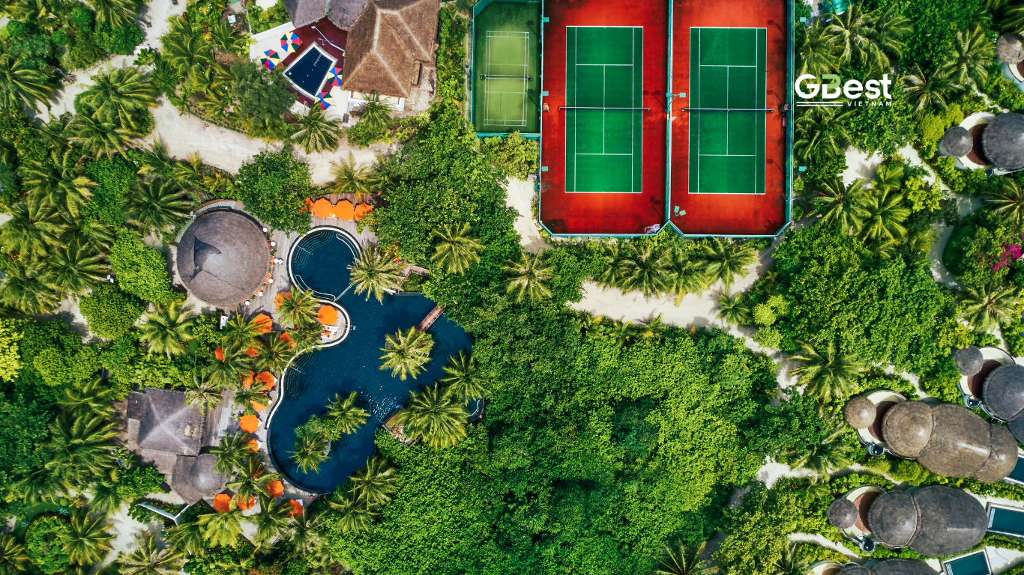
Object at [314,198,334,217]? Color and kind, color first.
orange umbrella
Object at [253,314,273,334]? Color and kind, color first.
orange umbrella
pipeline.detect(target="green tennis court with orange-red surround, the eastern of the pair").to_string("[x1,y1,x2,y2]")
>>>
[667,0,787,235]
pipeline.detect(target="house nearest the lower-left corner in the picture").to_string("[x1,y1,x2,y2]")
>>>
[127,388,232,505]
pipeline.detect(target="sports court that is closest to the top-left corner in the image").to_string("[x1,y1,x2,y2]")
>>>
[475,6,541,133]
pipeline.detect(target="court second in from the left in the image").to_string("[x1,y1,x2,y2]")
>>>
[540,0,667,233]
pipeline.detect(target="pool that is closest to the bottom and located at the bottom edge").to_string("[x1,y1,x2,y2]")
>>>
[939,548,992,575]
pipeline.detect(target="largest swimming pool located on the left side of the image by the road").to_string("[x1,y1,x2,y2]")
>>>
[264,225,485,496]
